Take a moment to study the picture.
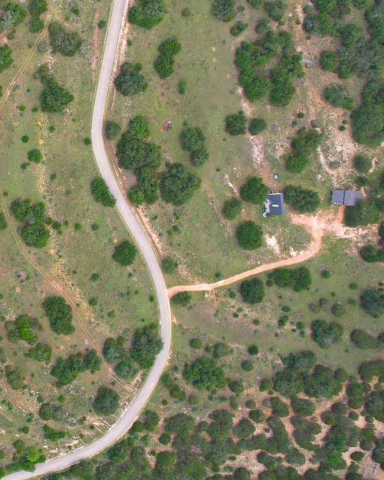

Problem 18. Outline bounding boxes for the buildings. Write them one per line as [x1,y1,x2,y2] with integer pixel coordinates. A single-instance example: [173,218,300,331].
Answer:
[265,192,284,216]
[328,190,360,206]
